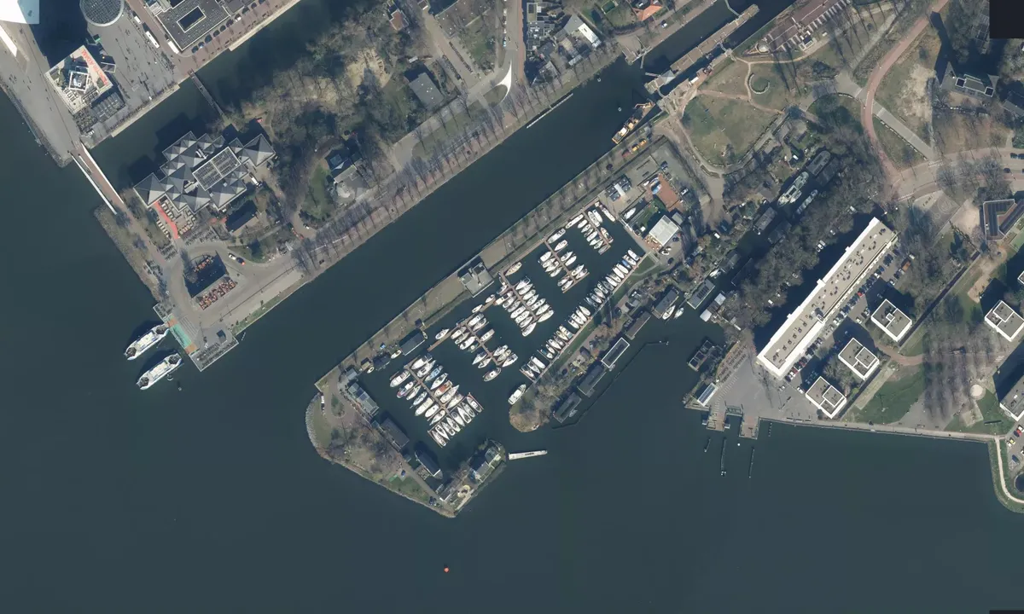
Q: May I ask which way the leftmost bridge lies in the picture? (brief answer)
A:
at an angle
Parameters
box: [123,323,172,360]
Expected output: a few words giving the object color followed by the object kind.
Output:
white ship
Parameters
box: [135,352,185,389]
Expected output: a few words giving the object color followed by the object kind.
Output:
white ship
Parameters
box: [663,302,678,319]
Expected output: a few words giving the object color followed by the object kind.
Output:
white boat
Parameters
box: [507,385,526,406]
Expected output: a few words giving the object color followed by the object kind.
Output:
white boat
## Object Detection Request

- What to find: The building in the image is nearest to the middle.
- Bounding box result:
[461,263,493,298]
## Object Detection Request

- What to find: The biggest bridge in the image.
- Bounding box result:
[68,143,125,213]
